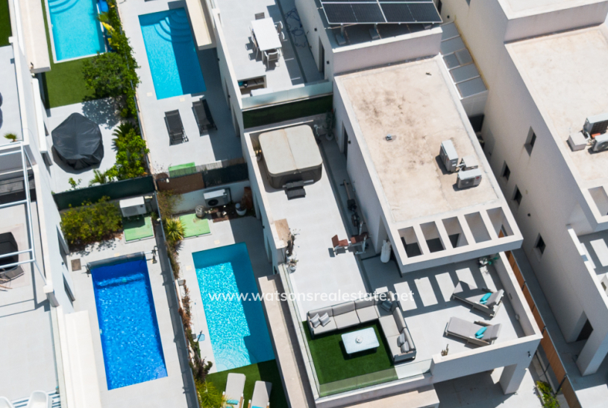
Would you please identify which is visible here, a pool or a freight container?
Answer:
pool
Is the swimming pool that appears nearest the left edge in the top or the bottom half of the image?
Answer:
top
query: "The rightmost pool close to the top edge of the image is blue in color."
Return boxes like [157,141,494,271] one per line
[139,6,206,99]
